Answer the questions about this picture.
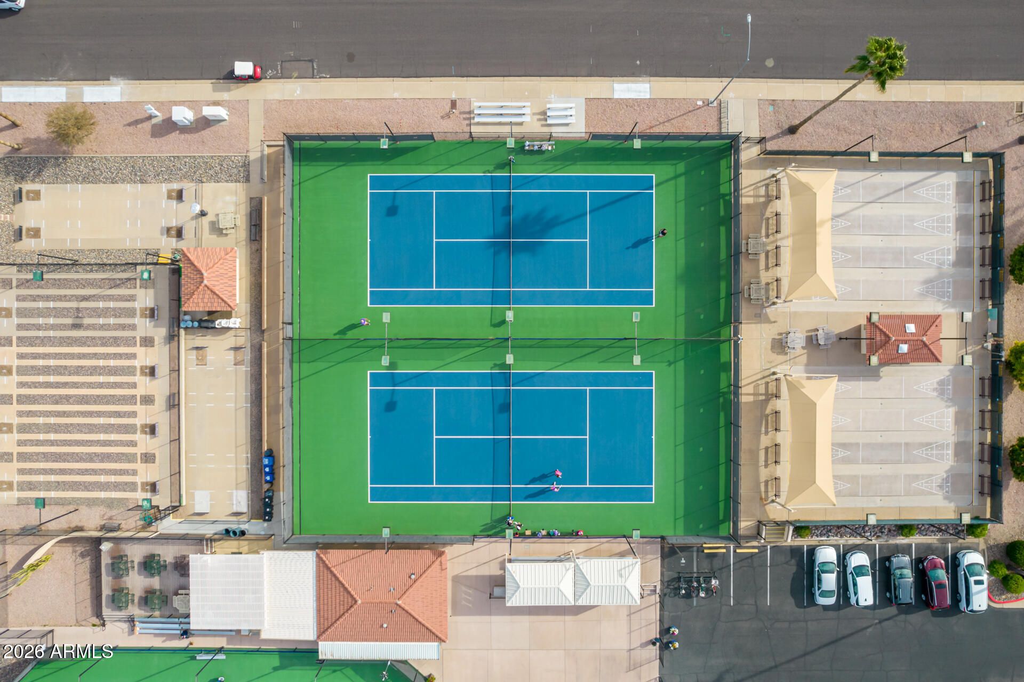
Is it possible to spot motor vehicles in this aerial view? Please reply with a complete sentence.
Yes, a motor vehicle can be made out from above.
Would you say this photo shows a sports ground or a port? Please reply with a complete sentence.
The picture captures a sports ground.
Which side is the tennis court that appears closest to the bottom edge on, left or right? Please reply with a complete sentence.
You can find the tennis court that appears closest to the bottom edge on the left side of the picture.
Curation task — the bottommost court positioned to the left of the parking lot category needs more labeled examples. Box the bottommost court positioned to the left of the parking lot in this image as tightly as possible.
[22,648,411,682]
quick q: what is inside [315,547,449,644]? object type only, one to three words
building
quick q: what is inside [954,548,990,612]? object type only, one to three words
car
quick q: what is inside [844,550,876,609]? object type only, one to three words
car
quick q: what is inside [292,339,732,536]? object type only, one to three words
tennis court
